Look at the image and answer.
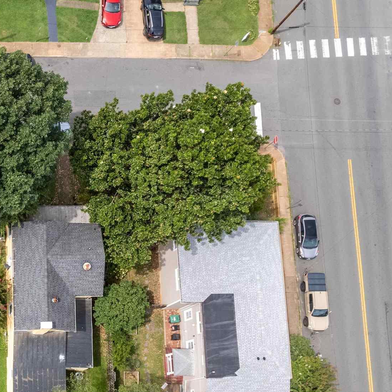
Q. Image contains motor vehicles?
Yes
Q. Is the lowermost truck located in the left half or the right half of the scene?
right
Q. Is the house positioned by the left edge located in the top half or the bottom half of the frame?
bottom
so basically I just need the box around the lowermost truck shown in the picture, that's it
[299,275,332,333]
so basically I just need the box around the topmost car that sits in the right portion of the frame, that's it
[292,214,321,261]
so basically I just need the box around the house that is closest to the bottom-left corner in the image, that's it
[3,206,108,392]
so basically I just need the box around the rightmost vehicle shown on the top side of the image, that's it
[140,0,165,43]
